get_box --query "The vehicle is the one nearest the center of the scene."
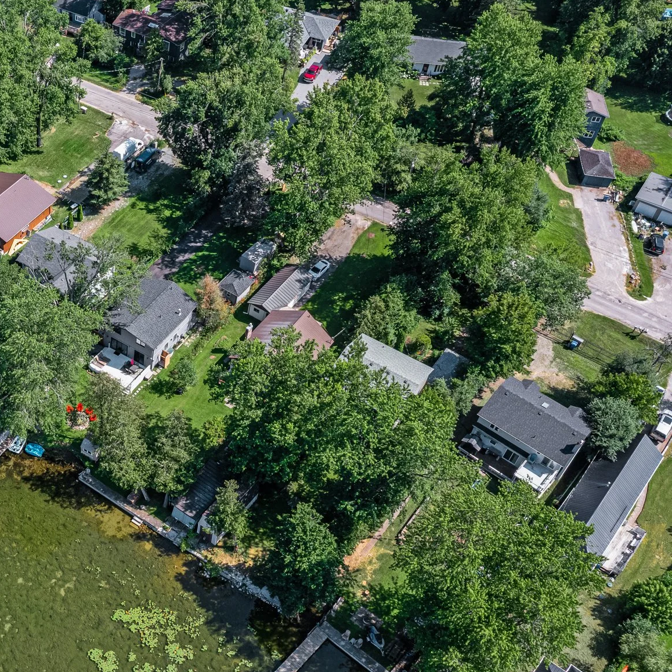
[308,260,332,284]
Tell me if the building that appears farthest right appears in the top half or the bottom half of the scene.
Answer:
top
